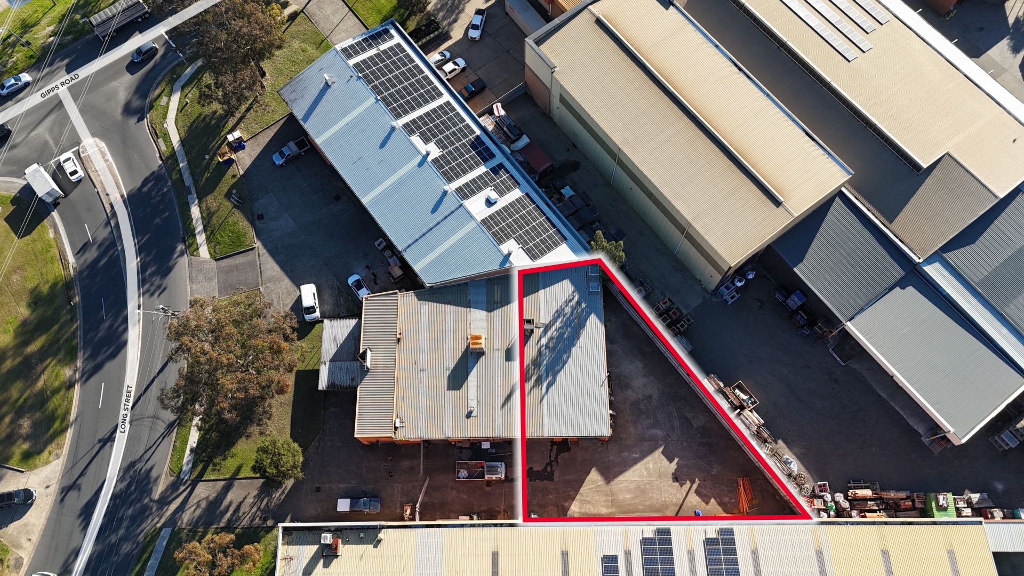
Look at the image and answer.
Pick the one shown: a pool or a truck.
truck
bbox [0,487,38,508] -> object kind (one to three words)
car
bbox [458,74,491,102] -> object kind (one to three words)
truck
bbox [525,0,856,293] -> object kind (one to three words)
warehouse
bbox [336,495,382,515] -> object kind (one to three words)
vehicle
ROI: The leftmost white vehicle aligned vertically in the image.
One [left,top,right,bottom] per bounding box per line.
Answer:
[300,281,320,322]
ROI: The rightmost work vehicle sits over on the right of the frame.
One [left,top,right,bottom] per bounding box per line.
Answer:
[788,289,812,312]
